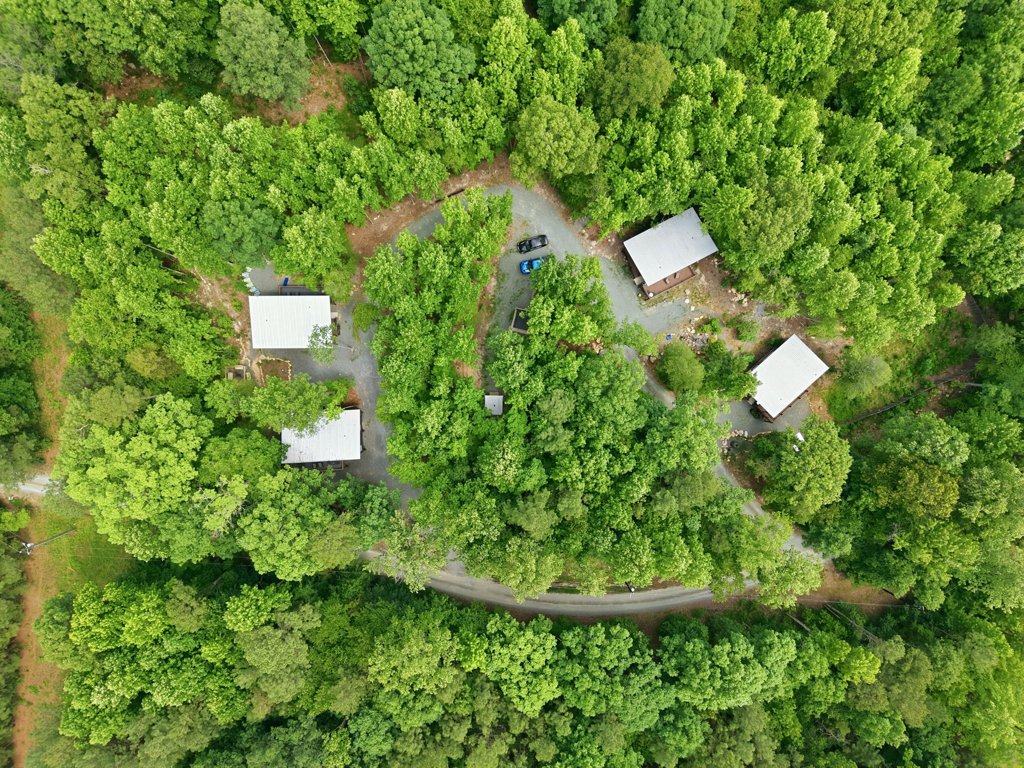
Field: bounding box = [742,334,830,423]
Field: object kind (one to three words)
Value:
building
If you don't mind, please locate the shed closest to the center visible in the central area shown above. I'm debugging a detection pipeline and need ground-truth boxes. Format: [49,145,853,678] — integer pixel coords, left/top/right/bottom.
[484,392,503,415]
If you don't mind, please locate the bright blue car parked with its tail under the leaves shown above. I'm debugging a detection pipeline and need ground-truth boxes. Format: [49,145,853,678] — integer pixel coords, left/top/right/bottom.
[519,255,549,273]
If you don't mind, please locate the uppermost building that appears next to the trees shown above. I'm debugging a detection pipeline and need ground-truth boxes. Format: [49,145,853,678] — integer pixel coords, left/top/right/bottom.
[624,210,718,300]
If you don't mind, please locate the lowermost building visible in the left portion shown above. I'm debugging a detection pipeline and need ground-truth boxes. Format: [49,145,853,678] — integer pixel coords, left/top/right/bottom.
[281,410,367,470]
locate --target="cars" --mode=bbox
[519,255,549,273]
[516,234,550,255]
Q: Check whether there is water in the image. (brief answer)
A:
No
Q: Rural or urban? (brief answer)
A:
rural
